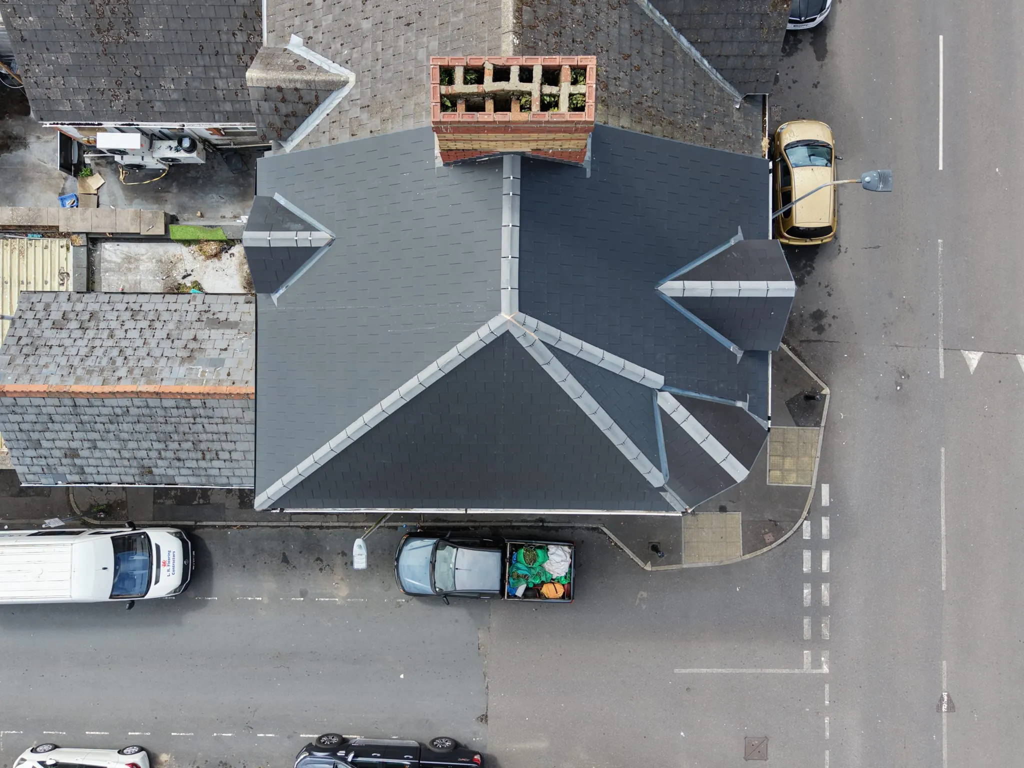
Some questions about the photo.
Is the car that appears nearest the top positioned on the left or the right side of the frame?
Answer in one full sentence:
The car that appears nearest the top appears in the right half of the scene.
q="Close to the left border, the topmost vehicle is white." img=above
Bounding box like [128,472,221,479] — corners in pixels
[0,524,200,610]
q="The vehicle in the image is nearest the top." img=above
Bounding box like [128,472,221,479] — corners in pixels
[789,0,837,33]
